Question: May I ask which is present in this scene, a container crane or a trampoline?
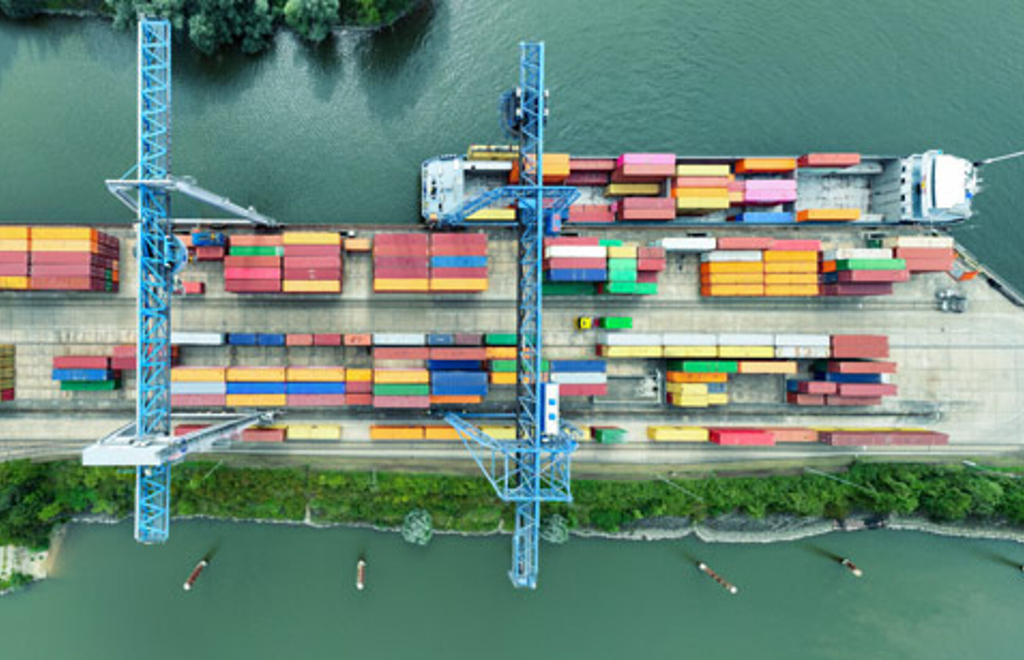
container crane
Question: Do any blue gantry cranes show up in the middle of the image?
Yes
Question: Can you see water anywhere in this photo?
Yes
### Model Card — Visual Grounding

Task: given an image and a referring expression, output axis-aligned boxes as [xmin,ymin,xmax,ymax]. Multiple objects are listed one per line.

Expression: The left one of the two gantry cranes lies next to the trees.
[83,11,287,547]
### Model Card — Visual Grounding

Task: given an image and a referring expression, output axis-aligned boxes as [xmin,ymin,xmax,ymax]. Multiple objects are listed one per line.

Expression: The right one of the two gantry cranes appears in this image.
[422,41,585,589]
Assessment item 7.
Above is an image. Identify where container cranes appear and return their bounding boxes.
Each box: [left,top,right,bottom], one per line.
[422,41,585,589]
[83,11,287,547]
